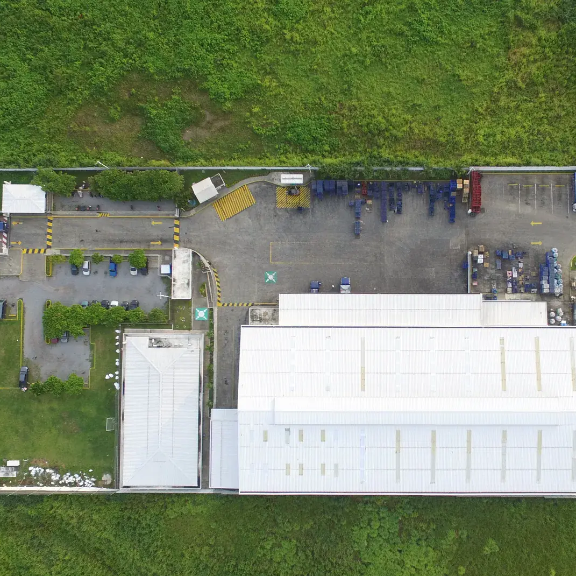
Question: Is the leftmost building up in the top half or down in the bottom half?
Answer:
top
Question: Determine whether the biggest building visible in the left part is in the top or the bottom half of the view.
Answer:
bottom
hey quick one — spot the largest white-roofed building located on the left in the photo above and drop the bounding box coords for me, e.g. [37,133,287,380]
[121,329,208,488]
